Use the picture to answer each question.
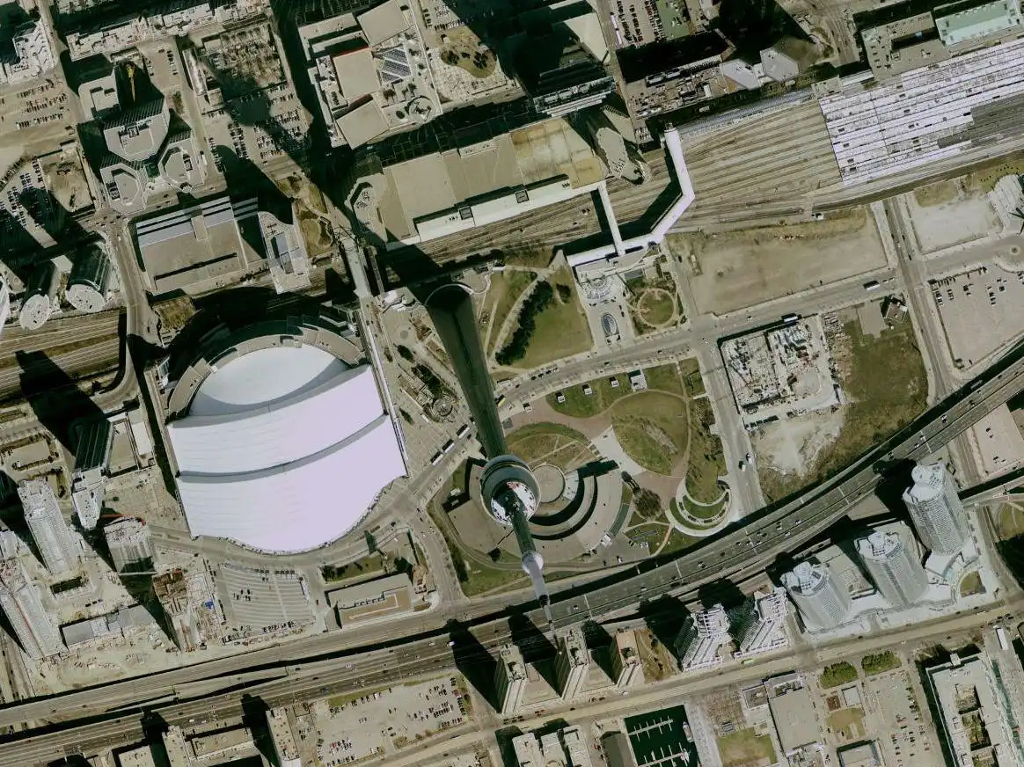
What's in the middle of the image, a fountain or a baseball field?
fountain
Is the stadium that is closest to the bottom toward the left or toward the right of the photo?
left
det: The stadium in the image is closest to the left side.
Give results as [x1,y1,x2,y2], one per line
[143,297,412,557]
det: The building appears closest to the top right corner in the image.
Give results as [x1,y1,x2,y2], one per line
[930,0,1023,46]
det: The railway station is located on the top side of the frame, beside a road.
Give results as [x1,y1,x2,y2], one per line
[821,38,1024,186]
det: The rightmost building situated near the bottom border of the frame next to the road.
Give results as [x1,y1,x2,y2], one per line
[922,644,1024,767]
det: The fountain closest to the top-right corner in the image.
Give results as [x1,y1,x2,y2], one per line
[602,312,619,346]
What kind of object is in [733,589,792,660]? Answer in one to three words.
building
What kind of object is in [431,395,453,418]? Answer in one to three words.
fountain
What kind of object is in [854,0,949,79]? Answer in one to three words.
building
